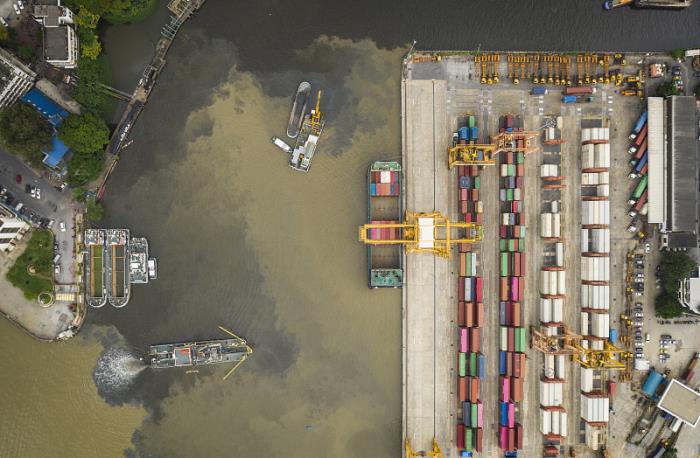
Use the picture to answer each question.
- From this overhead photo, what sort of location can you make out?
port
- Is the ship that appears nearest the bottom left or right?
left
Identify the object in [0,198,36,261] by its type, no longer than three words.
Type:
building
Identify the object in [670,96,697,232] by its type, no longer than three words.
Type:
building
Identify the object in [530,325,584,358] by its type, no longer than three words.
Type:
container crane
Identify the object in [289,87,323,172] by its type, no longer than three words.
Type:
ship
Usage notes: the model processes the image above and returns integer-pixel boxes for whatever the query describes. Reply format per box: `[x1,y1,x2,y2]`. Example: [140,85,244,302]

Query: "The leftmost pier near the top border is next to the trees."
[103,0,204,157]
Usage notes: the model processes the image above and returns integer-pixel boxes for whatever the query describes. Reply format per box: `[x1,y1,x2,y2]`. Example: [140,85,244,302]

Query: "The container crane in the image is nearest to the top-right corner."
[491,131,539,160]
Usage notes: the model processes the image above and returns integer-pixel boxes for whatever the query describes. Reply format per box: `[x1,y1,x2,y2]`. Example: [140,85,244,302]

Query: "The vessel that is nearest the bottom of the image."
[145,327,254,383]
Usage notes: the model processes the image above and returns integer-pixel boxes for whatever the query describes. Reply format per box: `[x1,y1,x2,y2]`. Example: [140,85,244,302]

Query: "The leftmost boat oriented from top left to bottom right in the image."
[273,137,291,153]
